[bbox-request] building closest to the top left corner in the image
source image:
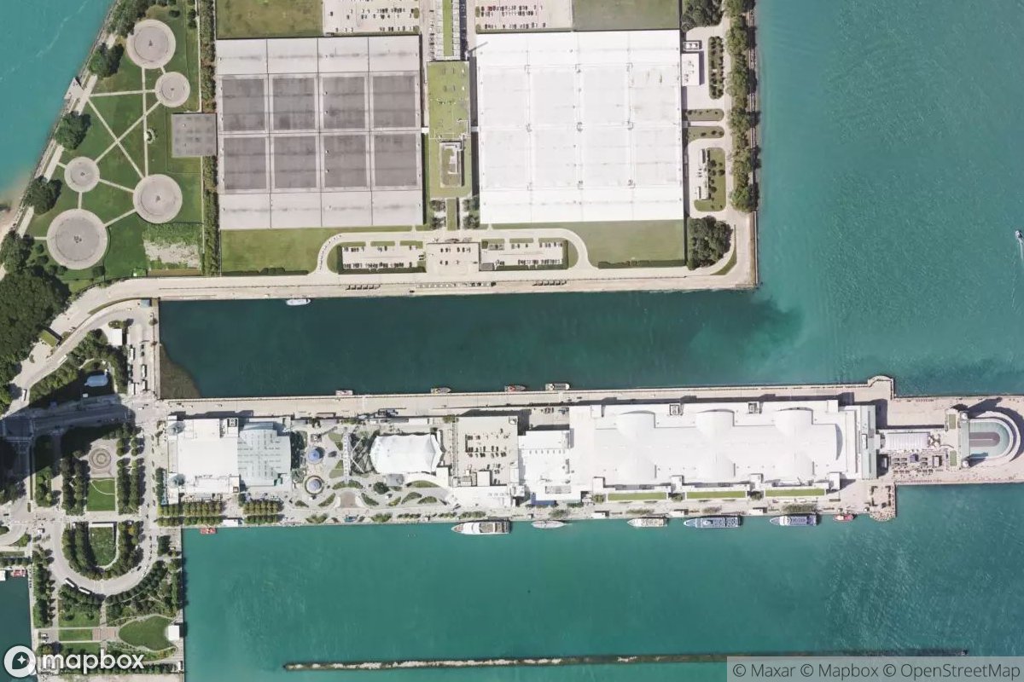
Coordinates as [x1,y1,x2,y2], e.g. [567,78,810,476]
[171,112,216,157]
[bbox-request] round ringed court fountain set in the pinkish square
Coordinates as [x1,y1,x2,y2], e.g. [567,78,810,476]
[89,447,112,469]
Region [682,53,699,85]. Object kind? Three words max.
building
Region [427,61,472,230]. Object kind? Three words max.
building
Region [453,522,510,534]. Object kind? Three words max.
boat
